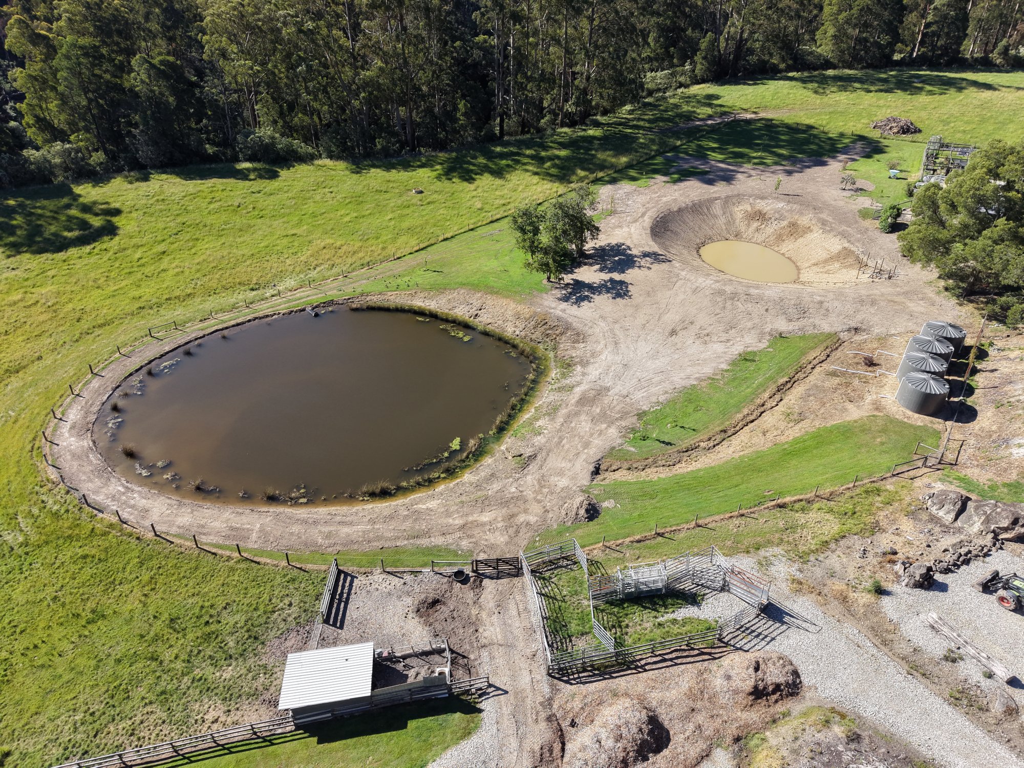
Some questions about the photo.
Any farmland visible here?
Yes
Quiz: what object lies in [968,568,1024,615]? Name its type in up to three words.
work vehicle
